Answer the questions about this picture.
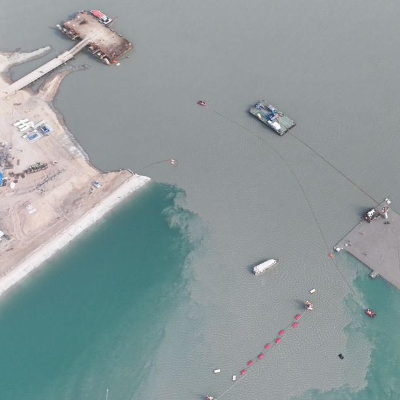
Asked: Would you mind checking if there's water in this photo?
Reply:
Yes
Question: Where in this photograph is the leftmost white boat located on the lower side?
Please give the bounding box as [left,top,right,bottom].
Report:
[251,259,277,274]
